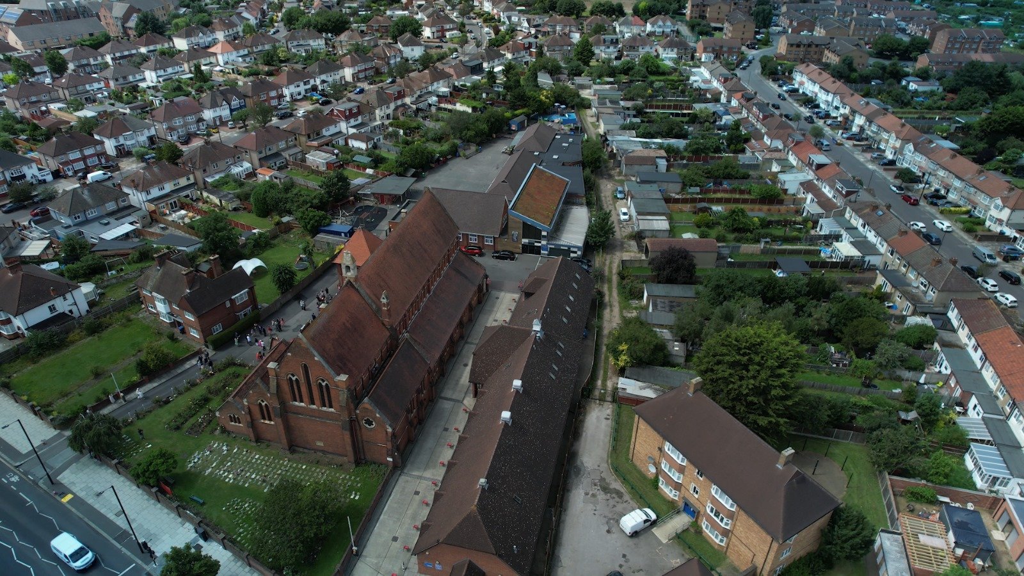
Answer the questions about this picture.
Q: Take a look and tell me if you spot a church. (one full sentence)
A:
Yes, a church appears in the view.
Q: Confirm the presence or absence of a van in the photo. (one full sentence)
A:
Yes, there's a van down there.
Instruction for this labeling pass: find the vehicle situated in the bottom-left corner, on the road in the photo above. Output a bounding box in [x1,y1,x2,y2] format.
[44,527,96,570]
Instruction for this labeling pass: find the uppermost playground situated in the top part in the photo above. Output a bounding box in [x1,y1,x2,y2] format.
[403,121,538,193]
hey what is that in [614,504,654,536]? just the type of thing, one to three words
van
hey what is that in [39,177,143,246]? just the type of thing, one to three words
house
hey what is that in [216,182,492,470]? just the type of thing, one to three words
church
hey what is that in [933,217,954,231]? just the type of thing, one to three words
car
